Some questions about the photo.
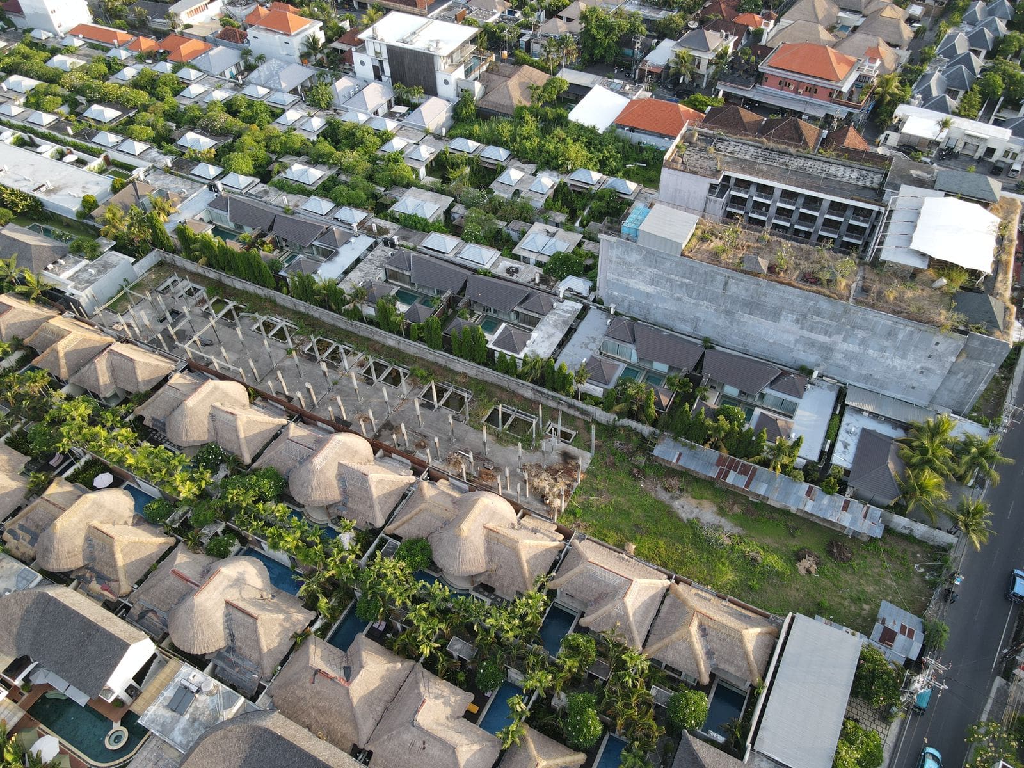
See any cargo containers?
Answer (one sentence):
No, no cargo container is visible in the view.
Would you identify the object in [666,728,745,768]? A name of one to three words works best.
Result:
house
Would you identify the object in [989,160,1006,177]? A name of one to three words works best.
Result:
car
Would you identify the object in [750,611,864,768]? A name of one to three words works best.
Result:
building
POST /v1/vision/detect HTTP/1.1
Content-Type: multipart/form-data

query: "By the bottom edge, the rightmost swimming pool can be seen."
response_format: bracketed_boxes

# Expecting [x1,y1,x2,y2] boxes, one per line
[701,679,752,744]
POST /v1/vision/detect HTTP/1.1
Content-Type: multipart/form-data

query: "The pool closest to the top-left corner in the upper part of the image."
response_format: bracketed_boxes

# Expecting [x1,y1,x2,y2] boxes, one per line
[26,220,80,244]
